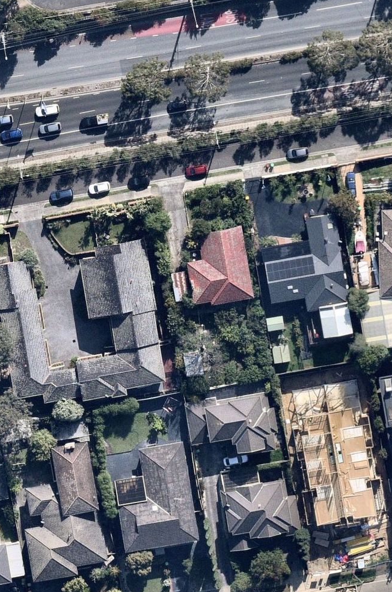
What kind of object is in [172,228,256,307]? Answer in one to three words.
house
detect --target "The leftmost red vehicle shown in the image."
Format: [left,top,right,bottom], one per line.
[186,165,206,178]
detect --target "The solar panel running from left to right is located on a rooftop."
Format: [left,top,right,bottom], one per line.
[267,257,315,280]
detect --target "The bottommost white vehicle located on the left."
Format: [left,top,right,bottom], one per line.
[88,183,110,196]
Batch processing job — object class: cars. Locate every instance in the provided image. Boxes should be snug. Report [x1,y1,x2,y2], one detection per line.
[39,123,61,135]
[36,106,59,118]
[0,116,12,127]
[224,457,247,468]
[186,165,206,178]
[1,129,23,142]
[127,177,150,188]
[286,147,309,160]
[358,261,368,285]
[166,101,188,114]
[51,190,72,203]
[88,183,110,196]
